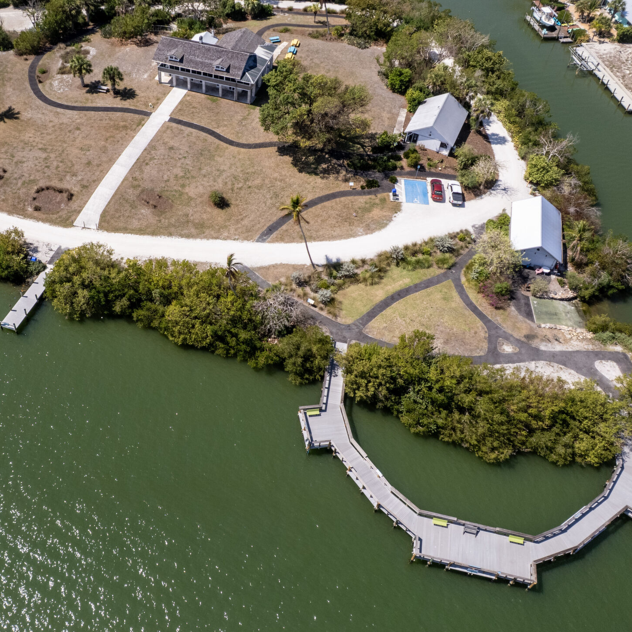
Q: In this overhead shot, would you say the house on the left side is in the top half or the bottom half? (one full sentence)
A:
The house on the left side sits in the top half of the picture.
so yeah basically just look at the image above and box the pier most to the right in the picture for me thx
[574,46,632,114]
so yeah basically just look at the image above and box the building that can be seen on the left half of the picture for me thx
[151,27,283,106]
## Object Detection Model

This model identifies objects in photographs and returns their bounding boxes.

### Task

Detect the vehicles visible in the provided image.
[448,180,465,204]
[430,180,444,200]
